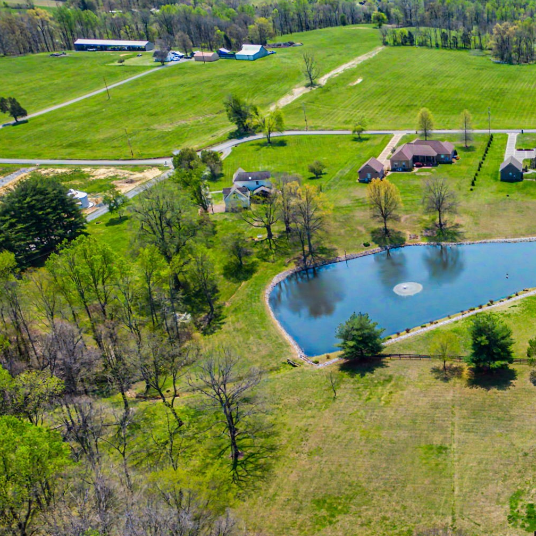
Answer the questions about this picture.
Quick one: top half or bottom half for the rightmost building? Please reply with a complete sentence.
The rightmost building sits in the top half of the picture.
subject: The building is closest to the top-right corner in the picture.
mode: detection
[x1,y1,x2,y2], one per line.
[498,153,525,181]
